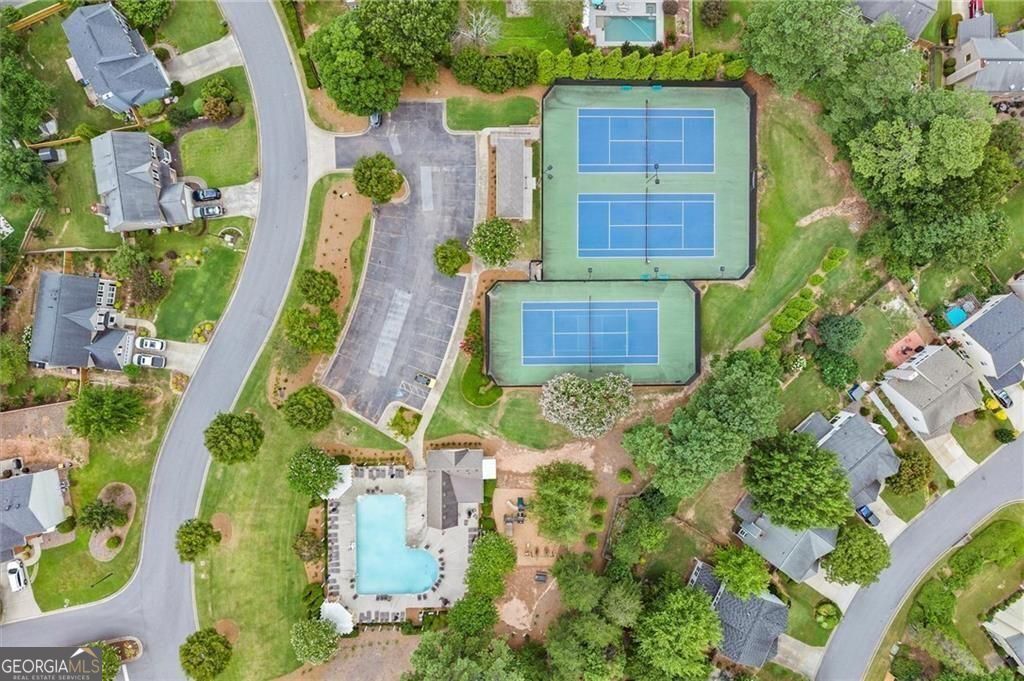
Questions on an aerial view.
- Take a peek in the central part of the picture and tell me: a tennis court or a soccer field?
tennis court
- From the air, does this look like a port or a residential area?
residential area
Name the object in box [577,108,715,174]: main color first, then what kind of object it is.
blue tennis court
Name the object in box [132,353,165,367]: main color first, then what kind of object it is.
white vehicle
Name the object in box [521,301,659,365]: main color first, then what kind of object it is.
blue tennis court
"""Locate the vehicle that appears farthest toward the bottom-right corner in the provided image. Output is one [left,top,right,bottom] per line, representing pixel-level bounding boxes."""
[858,503,887,532]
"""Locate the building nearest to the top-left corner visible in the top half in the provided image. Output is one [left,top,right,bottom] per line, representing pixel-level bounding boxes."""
[60,0,182,118]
